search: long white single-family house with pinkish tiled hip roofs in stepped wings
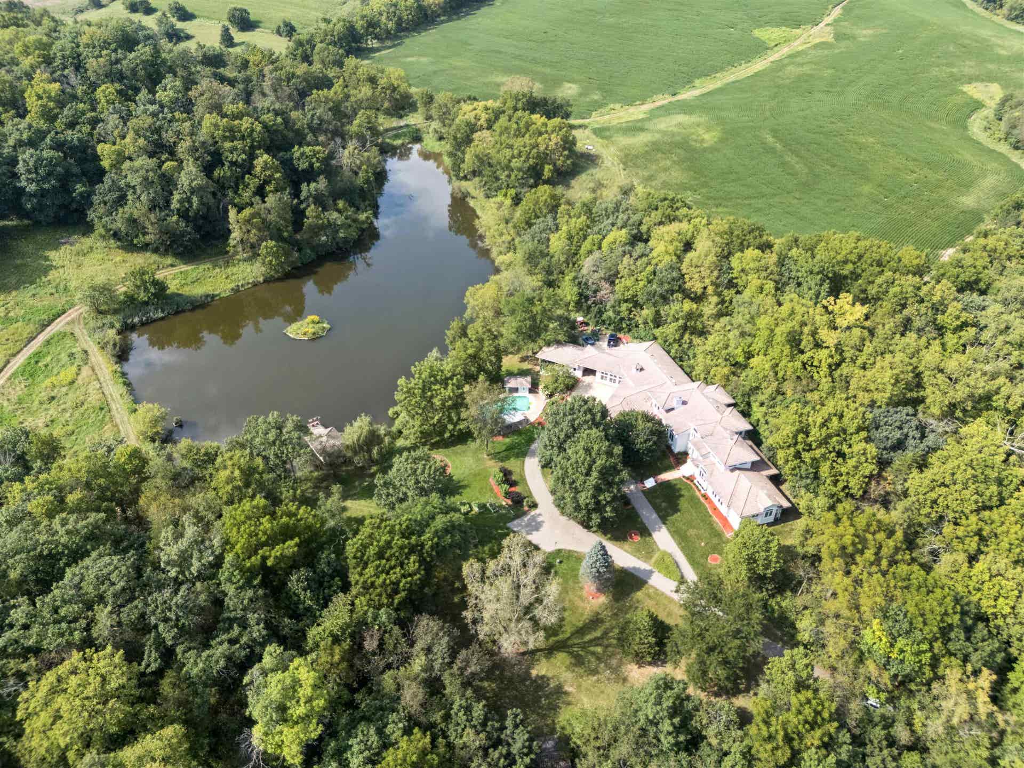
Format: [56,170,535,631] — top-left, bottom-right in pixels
[535,340,788,527]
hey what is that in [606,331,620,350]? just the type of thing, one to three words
car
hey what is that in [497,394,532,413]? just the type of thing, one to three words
swimming pool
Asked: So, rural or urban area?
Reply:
rural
